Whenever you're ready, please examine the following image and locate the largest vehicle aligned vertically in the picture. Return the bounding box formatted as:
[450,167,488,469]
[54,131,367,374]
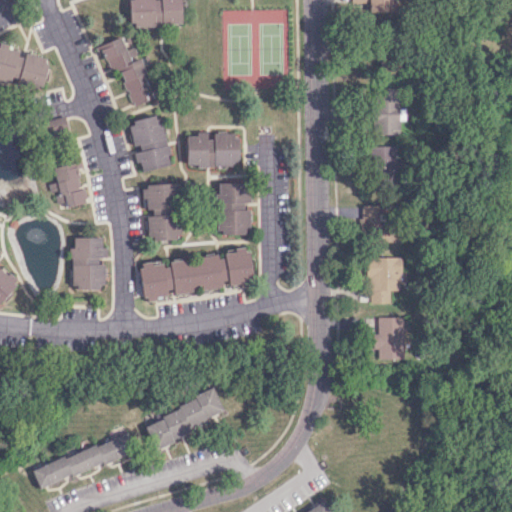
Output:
[104,130,116,156]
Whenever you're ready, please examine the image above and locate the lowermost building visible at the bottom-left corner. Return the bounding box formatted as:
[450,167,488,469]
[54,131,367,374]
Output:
[34,443,120,488]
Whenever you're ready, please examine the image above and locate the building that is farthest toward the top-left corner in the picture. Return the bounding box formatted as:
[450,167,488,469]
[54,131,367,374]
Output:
[0,44,48,88]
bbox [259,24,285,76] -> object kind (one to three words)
tennis court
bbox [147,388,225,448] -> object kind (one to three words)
building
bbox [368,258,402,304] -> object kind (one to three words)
house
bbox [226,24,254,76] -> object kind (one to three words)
tennis court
